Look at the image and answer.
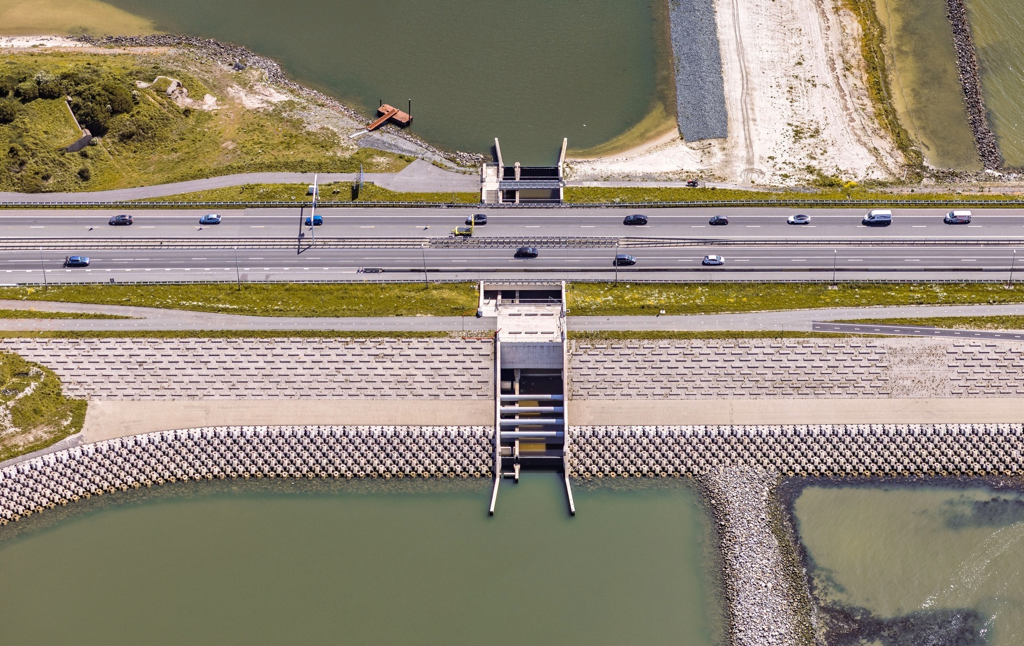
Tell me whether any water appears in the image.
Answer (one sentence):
Yes, there is water in the image.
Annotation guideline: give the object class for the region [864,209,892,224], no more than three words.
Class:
vehicle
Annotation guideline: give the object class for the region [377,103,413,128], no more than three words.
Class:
pier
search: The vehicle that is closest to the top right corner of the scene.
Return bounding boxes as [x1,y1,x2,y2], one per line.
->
[947,211,971,223]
